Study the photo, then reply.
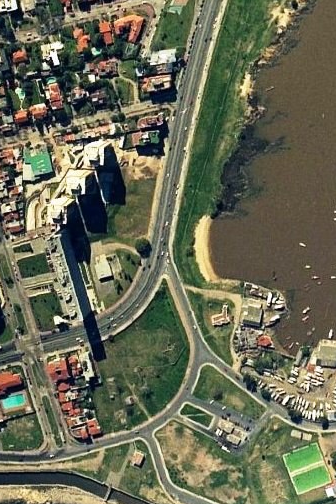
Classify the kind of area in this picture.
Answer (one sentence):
It's a residential area.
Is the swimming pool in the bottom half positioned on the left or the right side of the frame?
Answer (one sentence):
The swimming pool in the bottom half appears in the left half of the scene.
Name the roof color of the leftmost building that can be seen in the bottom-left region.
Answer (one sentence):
The roof over the leftmost building that can be seen in the bottom-left region appears red.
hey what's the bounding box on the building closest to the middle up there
[95,253,113,278]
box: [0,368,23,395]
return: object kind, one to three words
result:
building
